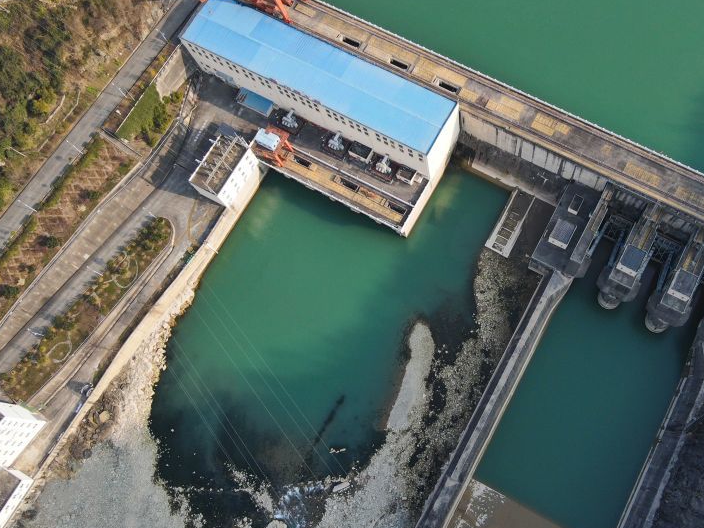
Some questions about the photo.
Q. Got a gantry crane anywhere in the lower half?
No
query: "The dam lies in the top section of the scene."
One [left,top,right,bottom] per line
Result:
[229,0,704,300]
